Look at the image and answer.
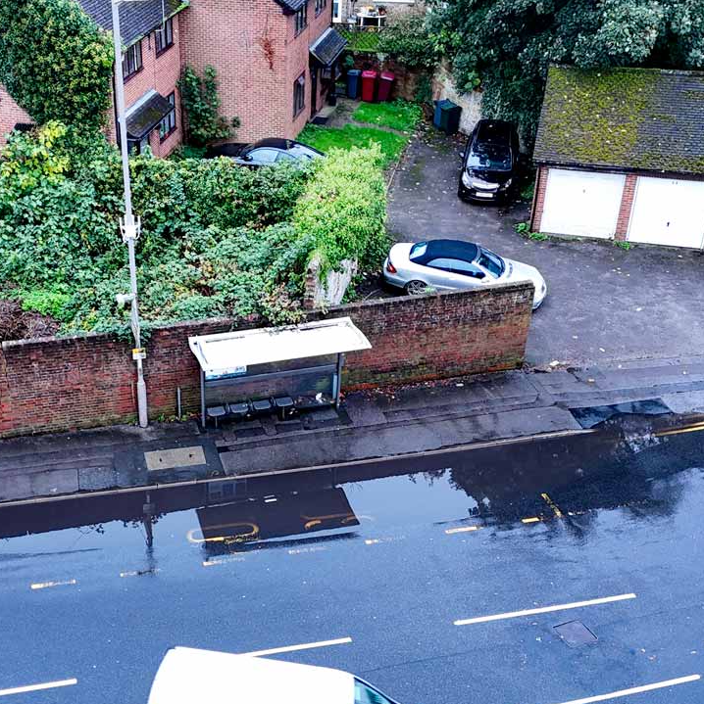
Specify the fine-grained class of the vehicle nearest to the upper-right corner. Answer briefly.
automobile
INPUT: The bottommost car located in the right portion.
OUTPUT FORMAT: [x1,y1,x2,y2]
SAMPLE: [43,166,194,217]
[382,235,549,301]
